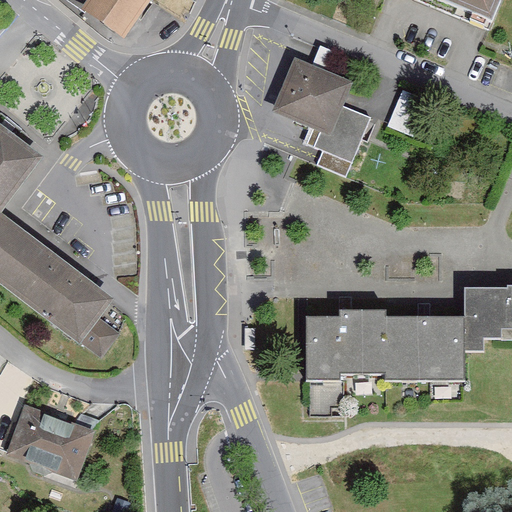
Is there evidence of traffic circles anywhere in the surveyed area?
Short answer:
Yes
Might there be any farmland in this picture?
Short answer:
No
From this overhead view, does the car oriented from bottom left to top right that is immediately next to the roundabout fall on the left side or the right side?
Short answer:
left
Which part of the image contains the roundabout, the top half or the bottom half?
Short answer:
top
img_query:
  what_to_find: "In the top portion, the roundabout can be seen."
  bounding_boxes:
[103,50,241,187]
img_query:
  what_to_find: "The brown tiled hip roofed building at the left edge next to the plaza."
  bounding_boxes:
[0,124,43,208]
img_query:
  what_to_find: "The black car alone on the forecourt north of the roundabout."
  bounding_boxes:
[158,20,182,40]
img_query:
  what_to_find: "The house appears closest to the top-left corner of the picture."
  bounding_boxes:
[82,0,152,38]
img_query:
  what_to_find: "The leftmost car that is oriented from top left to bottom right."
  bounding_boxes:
[70,238,92,258]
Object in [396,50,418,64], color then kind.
white car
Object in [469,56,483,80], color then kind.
white car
